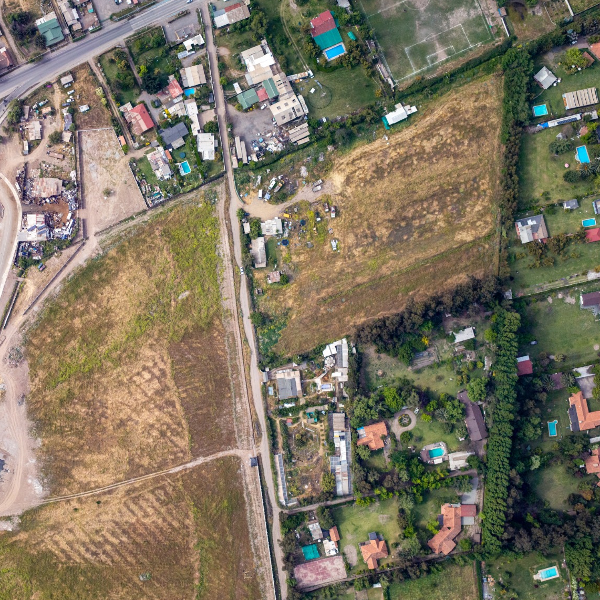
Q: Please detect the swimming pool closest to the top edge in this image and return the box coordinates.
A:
[323,42,347,62]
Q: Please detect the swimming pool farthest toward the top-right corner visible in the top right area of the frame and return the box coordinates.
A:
[533,104,547,117]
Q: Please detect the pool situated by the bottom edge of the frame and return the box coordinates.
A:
[538,565,560,581]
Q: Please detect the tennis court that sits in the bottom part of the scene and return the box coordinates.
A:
[293,556,347,591]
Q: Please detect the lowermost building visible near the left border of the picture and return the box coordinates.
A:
[18,214,48,242]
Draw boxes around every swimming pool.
[549,417,558,436]
[184,87,195,97]
[319,382,334,392]
[533,104,547,117]
[581,218,597,227]
[572,146,589,164]
[423,442,449,463]
[538,565,560,581]
[179,158,192,177]
[323,42,347,62]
